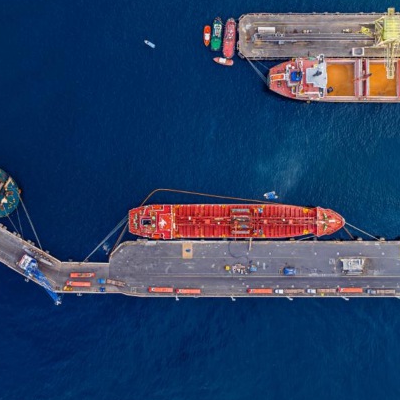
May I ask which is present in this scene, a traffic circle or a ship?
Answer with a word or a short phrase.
ship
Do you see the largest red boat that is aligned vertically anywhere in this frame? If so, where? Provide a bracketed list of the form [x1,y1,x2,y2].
[222,19,237,58]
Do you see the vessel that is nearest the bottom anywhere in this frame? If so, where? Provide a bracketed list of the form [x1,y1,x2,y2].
[129,204,345,241]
